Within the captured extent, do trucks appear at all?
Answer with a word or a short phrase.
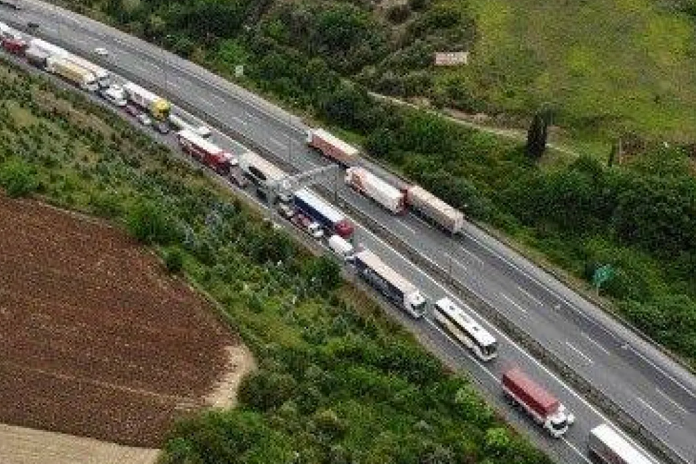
Yes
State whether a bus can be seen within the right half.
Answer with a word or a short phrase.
Yes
